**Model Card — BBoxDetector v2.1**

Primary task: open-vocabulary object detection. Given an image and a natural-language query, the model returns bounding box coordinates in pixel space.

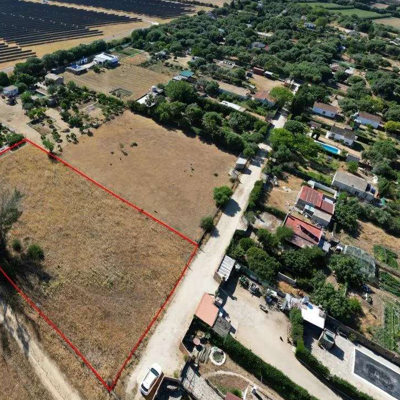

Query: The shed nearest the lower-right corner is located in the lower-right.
[315,326,338,348]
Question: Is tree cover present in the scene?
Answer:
Yes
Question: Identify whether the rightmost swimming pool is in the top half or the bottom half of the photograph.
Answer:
bottom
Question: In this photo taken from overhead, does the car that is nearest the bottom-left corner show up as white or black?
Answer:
white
